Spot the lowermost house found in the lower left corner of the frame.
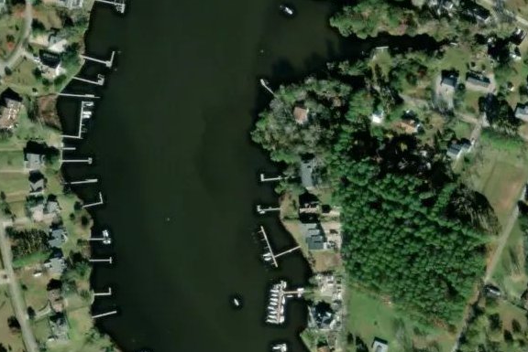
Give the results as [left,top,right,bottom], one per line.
[48,317,69,341]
